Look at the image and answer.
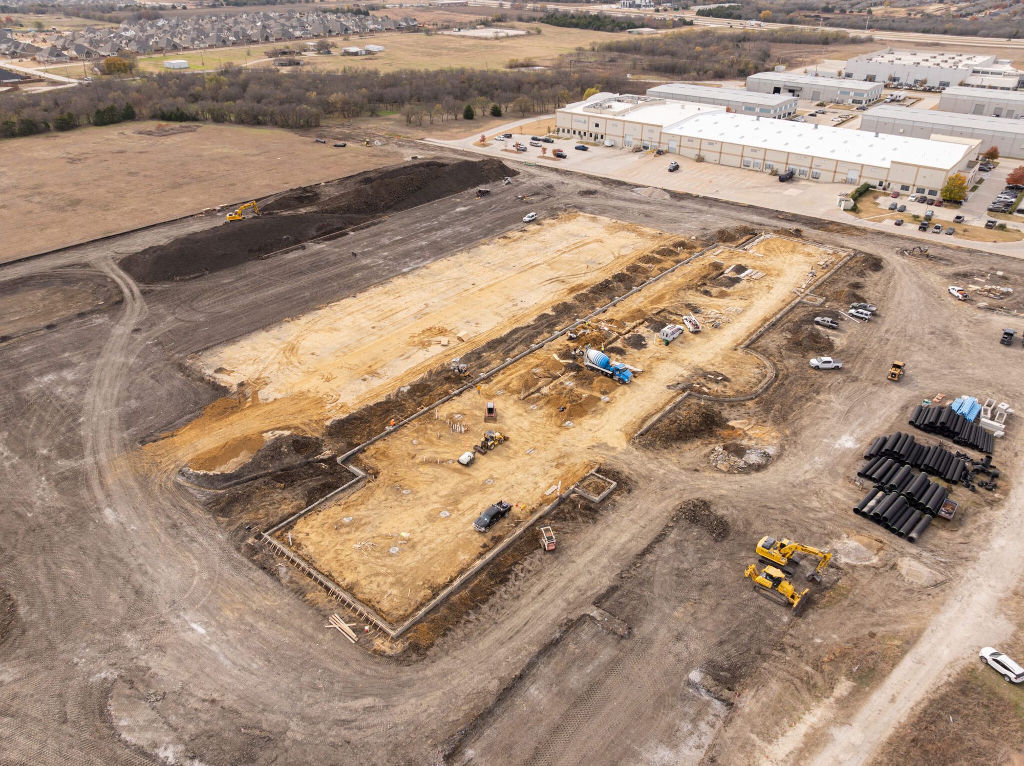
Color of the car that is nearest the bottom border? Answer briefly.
white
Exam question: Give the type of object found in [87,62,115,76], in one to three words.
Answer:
house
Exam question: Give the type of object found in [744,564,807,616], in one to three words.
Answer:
work vehicle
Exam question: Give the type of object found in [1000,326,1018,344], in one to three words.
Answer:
vehicle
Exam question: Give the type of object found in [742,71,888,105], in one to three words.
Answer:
building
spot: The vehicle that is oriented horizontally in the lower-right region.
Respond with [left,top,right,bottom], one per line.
[755,535,840,588]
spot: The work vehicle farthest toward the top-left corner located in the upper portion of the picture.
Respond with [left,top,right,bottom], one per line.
[223,191,264,223]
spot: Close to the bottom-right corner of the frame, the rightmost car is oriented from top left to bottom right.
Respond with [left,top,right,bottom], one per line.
[978,645,1024,685]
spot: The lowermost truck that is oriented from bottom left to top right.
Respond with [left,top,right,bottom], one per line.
[472,495,515,528]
